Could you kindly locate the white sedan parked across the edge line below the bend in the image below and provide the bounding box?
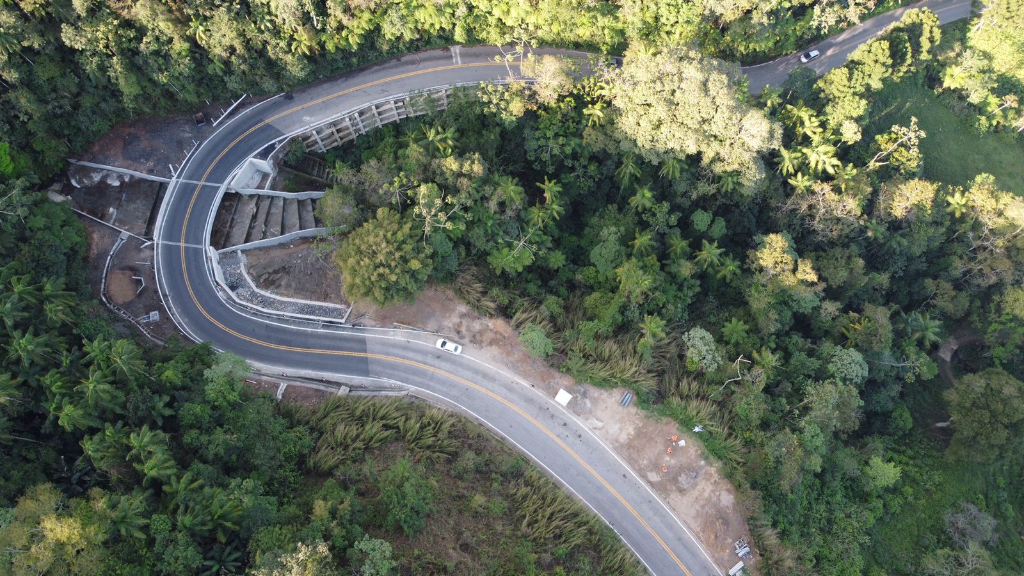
[435,338,462,354]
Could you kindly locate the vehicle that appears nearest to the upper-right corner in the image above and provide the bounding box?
[801,47,821,62]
